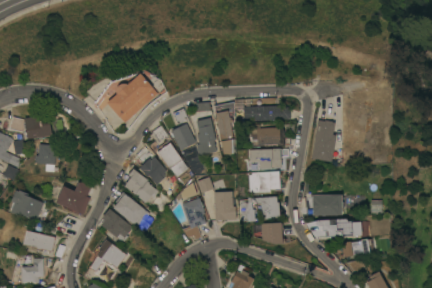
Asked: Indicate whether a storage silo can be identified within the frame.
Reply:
No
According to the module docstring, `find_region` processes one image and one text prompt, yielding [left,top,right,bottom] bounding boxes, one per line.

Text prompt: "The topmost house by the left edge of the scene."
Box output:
[10,117,51,138]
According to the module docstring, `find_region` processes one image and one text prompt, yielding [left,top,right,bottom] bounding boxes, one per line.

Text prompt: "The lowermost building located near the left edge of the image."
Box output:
[20,255,46,284]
